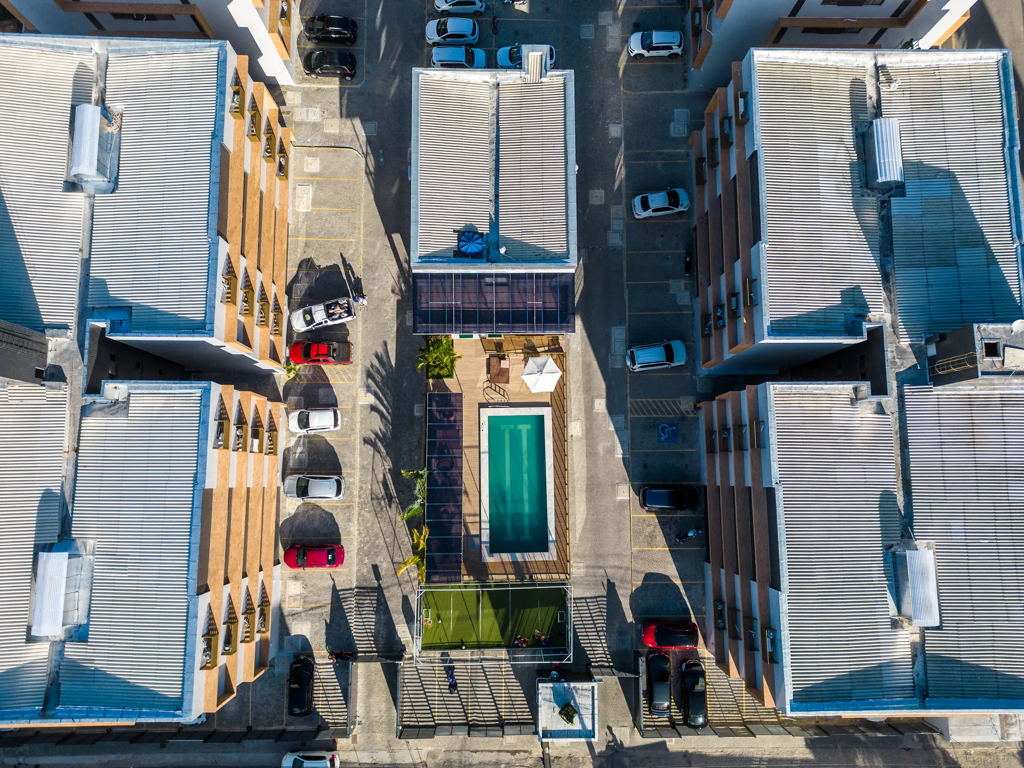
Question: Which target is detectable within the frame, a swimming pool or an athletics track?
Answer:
swimming pool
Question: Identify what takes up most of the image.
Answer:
buildings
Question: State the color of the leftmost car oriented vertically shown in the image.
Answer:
black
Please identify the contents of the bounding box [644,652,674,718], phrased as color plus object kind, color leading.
black car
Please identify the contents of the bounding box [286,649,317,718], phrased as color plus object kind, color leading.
black car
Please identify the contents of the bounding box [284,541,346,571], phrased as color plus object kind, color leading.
red car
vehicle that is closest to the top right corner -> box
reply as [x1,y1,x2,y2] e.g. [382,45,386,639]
[628,29,684,60]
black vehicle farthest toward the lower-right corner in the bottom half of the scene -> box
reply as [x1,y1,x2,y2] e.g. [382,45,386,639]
[678,657,709,726]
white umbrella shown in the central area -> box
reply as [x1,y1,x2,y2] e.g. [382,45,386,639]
[521,357,563,393]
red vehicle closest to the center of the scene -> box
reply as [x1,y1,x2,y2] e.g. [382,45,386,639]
[289,338,355,367]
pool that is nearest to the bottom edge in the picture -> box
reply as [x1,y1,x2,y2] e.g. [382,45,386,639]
[480,407,555,562]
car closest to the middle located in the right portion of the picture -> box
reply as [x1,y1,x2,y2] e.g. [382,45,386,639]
[625,339,684,371]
